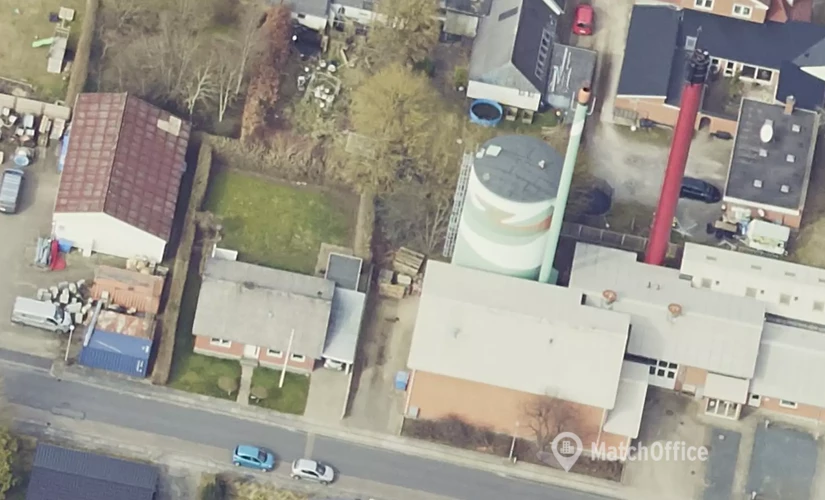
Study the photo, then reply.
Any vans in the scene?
Yes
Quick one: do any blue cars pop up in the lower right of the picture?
No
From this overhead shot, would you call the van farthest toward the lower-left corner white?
Yes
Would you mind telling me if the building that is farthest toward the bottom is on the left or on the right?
left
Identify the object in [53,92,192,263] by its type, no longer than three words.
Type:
barn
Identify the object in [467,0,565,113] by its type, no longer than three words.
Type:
house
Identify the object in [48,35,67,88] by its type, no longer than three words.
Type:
shed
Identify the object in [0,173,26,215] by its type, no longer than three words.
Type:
vehicle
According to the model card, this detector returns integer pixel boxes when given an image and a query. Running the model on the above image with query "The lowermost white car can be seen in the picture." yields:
[288,457,337,486]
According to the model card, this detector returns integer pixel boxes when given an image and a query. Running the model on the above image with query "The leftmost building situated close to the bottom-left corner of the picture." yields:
[26,442,162,500]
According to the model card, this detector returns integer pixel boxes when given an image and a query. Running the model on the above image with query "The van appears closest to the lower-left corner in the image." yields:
[10,295,73,336]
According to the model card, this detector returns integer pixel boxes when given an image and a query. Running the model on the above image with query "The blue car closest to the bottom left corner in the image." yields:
[230,444,276,473]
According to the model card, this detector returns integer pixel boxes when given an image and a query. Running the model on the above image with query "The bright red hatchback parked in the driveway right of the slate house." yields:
[572,6,594,39]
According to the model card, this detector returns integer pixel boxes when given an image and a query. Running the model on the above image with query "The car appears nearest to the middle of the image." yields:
[322,357,342,370]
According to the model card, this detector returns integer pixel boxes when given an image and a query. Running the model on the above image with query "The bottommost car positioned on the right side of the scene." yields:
[678,177,723,206]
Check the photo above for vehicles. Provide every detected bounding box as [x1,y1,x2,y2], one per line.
[10,295,73,336]
[288,457,337,486]
[0,173,26,215]
[572,6,594,39]
[678,177,723,206]
[322,357,342,370]
[230,444,276,473]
